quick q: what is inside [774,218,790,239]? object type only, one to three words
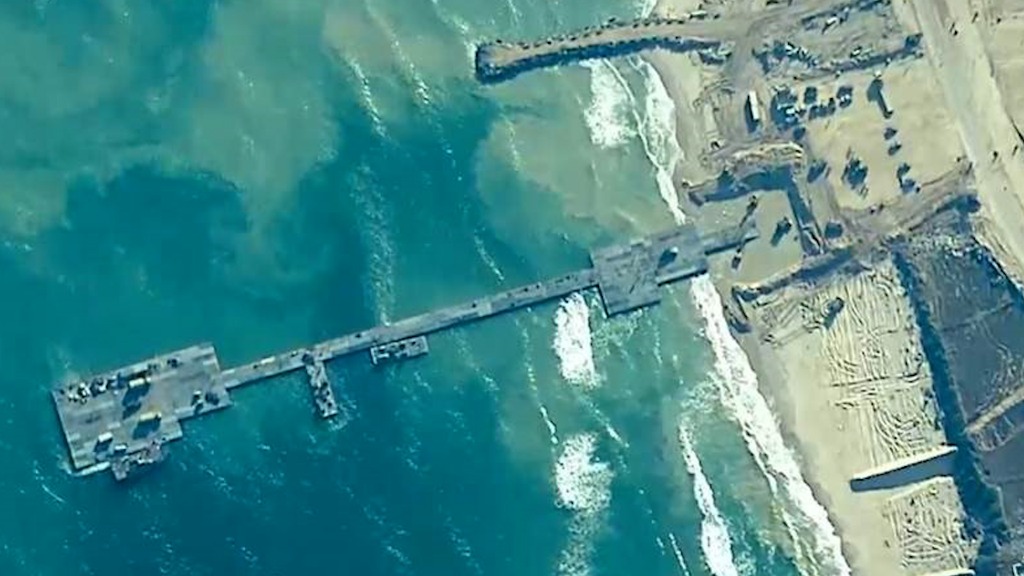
vehicle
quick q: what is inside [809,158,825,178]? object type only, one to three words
vehicle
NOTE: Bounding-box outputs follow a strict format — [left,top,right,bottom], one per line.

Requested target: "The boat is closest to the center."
[371,336,429,364]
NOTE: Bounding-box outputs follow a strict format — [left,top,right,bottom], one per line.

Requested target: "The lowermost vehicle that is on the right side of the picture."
[828,291,847,318]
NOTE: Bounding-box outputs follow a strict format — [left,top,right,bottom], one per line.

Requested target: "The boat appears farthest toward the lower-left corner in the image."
[109,457,129,483]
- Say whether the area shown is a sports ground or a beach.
beach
